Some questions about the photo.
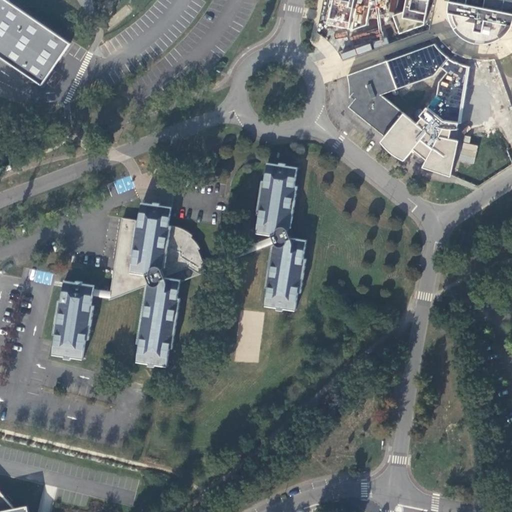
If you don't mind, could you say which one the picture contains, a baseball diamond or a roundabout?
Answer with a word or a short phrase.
roundabout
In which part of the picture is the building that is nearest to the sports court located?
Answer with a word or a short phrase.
center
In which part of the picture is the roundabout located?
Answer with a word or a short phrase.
top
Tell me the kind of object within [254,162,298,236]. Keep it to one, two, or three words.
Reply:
building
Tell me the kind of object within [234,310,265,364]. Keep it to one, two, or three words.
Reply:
sports court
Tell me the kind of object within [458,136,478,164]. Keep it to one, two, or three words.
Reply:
building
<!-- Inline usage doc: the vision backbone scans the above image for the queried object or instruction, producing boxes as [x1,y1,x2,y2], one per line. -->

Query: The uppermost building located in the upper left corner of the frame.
[0,0,70,84]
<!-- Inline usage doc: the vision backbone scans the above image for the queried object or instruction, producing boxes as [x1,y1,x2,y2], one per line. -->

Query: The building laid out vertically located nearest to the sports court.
[264,234,308,312]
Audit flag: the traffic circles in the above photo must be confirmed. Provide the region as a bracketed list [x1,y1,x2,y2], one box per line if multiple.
[218,36,337,142]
